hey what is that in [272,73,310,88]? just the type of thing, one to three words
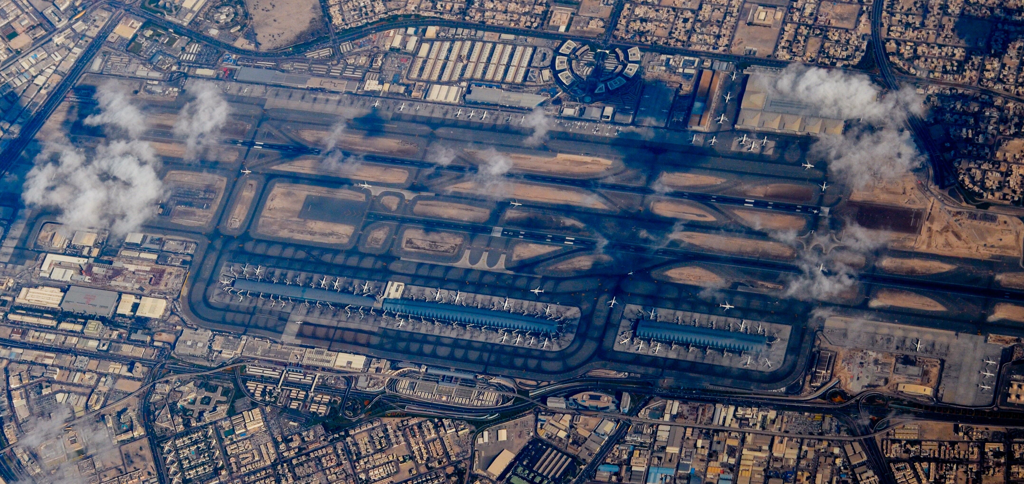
building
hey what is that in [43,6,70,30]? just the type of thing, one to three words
building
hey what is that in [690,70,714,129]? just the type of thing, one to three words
hangar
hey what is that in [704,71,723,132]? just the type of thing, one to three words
hangar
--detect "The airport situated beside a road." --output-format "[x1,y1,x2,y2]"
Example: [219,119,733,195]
[0,77,1024,408]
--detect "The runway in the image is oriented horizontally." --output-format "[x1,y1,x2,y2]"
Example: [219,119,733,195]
[130,124,1024,301]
